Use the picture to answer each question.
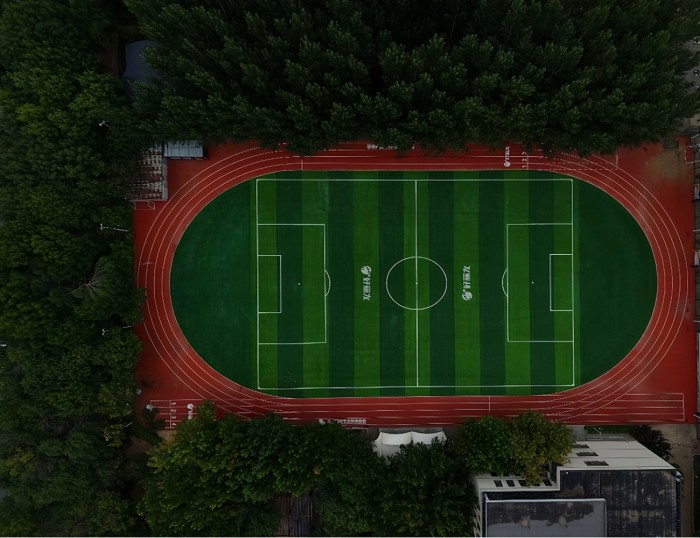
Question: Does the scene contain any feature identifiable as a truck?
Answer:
No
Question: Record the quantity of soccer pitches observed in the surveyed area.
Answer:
1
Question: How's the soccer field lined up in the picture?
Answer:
from side to side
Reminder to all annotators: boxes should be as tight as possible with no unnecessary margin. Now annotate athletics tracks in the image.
[134,136,697,432]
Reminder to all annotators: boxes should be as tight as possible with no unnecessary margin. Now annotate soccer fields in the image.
[171,170,658,398]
